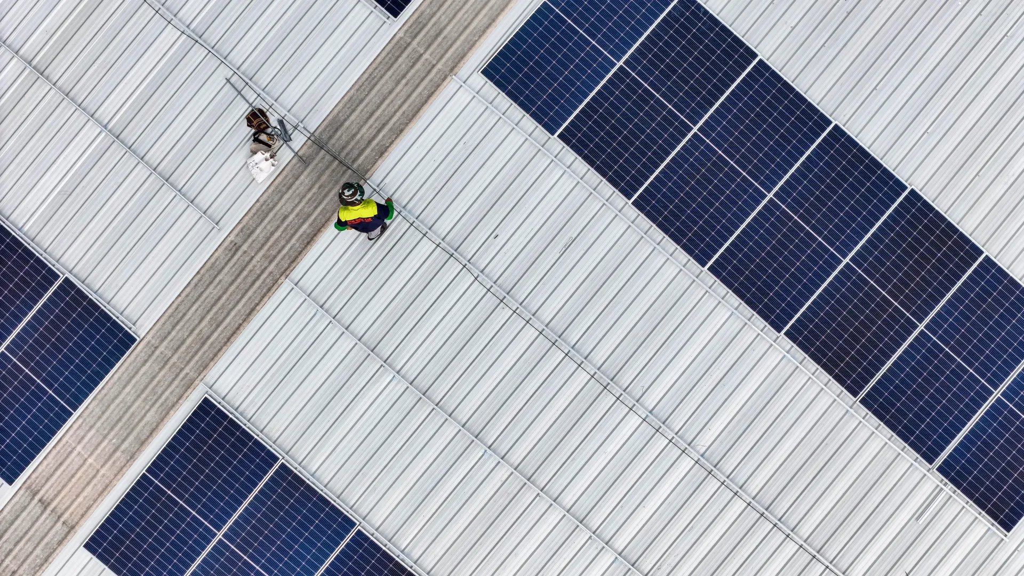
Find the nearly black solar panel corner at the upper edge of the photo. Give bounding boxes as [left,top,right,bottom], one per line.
[370,0,413,22]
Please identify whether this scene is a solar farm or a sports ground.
solar farm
